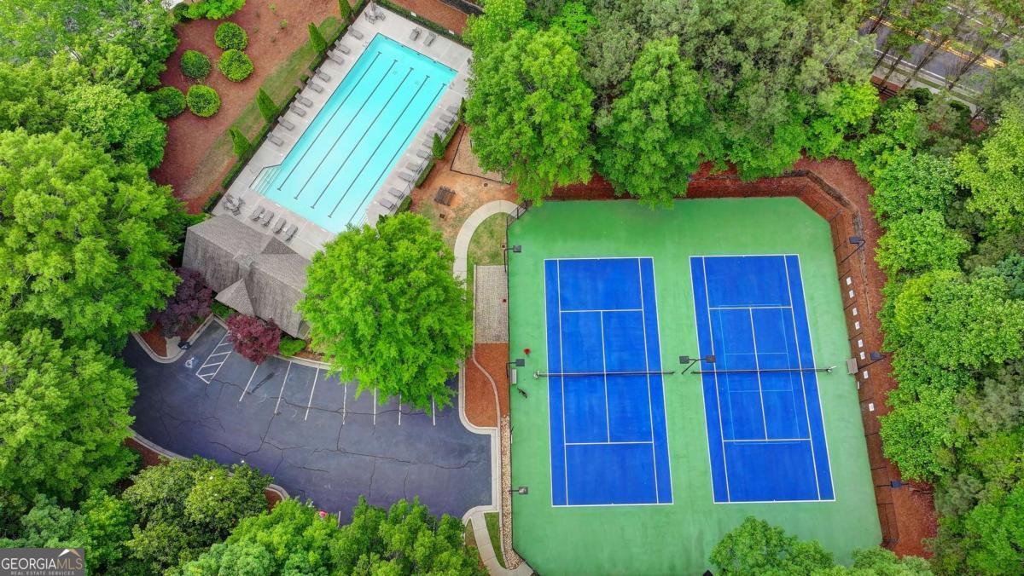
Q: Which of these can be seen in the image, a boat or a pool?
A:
pool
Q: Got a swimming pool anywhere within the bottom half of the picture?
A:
No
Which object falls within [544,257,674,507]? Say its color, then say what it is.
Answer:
blue tennis court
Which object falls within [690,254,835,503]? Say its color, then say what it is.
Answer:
blue tennis court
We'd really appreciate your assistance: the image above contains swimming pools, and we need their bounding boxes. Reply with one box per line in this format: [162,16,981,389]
[244,29,462,249]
